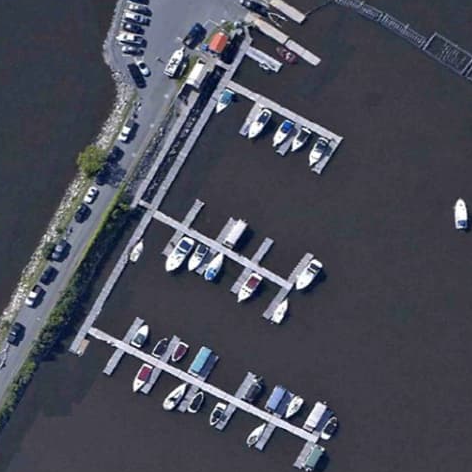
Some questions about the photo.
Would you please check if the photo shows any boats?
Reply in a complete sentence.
Yes, a boat is visible in the scene.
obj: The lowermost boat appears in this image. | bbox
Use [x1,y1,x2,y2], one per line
[303,444,324,472]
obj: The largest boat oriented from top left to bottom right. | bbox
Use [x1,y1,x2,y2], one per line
[277,48,297,65]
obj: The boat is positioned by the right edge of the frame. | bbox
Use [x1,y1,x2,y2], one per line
[453,198,467,231]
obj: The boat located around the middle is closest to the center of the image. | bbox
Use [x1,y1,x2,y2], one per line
[225,219,246,249]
